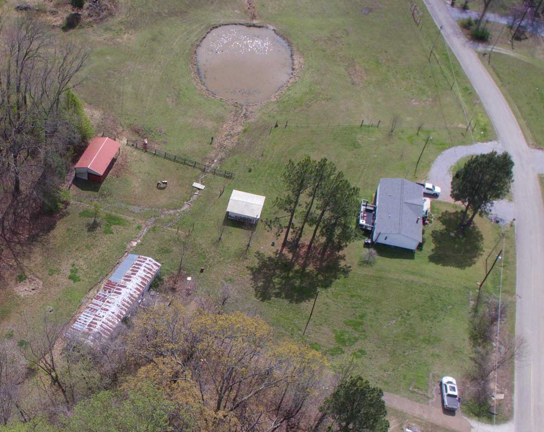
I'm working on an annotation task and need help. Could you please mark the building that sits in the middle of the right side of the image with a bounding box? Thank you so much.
[373,176,428,252]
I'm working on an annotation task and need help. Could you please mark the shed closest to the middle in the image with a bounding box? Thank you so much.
[226,189,266,227]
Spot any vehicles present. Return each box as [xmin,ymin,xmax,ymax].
[423,183,444,197]
[438,376,460,409]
